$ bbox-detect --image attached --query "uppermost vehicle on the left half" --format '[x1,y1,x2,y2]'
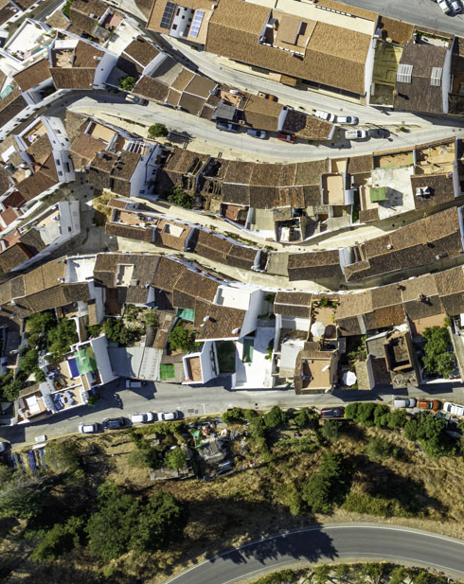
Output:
[127,93,147,107]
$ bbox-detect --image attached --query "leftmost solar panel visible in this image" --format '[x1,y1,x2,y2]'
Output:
[160,1,176,28]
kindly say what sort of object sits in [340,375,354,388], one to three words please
umbrella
